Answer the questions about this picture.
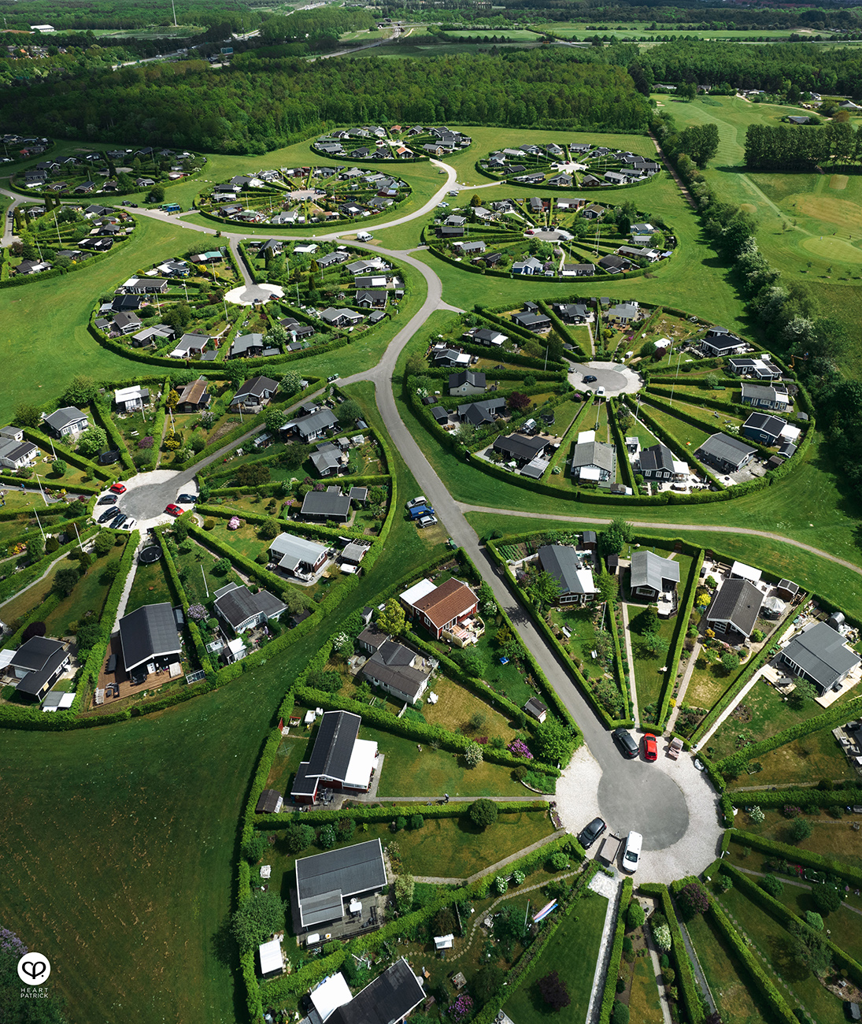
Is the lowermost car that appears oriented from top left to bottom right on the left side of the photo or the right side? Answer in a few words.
right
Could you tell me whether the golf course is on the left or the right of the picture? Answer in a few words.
right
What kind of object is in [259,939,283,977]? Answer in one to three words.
shed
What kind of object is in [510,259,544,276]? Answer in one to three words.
house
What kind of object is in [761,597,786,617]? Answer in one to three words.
gazebo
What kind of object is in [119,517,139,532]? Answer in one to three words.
car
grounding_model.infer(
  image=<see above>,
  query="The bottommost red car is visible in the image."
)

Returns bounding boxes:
[643,733,659,761]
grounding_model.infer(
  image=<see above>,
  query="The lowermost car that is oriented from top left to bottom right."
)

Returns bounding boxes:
[615,729,641,759]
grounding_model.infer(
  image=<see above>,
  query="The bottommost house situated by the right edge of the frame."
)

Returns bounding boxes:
[780,631,860,688]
